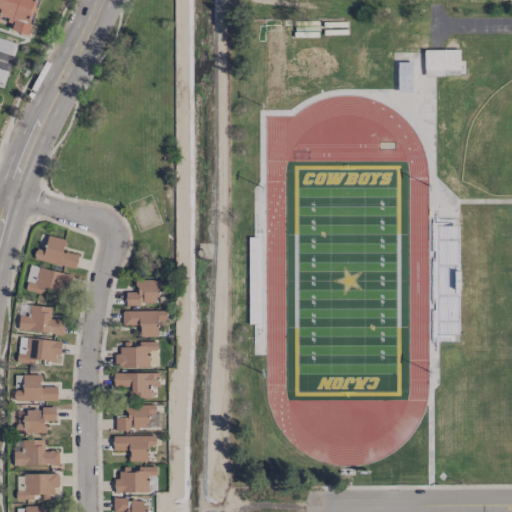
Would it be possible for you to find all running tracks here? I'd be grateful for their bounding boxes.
[266,98,430,466]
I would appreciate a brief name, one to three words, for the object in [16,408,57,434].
house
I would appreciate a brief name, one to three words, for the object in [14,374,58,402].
house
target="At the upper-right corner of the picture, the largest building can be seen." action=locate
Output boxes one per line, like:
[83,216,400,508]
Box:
[426,50,467,76]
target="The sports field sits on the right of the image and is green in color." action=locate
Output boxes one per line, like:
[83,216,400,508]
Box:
[286,162,410,400]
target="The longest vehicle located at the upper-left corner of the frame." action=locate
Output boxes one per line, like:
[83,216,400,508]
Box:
[30,61,52,98]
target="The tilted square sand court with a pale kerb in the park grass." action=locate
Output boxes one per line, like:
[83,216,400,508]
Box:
[130,195,164,232]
